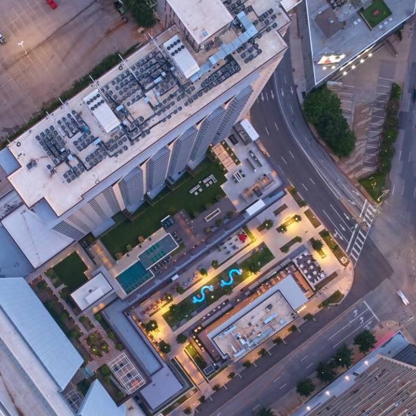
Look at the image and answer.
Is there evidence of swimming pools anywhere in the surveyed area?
Yes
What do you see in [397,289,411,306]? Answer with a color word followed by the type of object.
white vehicle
